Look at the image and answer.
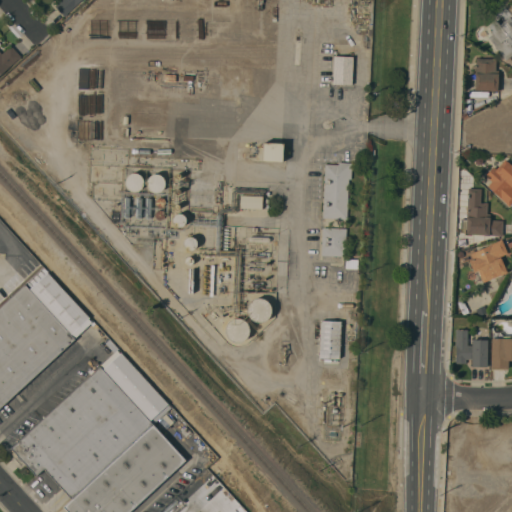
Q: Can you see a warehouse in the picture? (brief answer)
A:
Yes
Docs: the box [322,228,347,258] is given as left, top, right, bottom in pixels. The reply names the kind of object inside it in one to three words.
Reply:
building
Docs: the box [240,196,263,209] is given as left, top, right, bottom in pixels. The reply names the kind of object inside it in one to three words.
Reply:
building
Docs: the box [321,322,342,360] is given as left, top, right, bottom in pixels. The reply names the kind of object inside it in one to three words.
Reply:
shed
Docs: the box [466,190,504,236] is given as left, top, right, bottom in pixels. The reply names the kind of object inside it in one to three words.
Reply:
house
